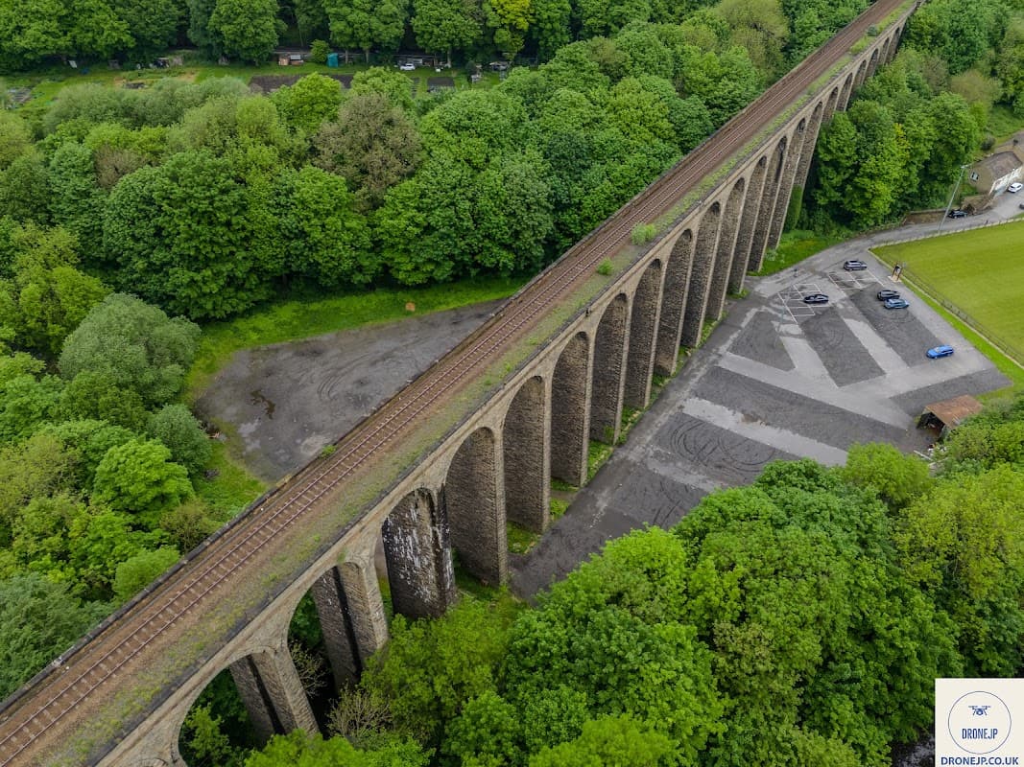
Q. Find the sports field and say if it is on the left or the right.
right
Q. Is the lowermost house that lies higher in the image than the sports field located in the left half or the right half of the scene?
right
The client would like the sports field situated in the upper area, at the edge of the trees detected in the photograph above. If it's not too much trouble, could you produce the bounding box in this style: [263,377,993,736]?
[877,217,1024,373]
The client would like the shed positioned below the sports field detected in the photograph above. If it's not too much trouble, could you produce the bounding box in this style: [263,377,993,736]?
[916,396,989,448]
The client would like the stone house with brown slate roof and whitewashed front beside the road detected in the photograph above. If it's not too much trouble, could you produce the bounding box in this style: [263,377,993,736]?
[962,148,1024,194]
